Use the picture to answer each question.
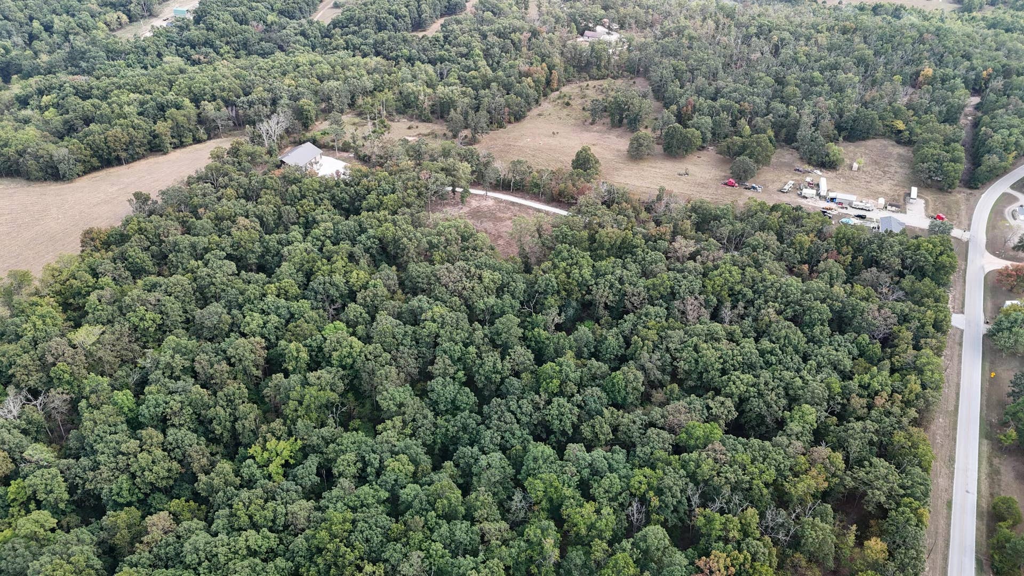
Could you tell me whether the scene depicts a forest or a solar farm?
forest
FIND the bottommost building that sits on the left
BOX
[268,140,324,173]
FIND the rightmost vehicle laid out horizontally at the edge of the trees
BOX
[928,210,949,222]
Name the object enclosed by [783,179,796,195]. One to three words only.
vehicle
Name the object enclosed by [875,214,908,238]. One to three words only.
house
